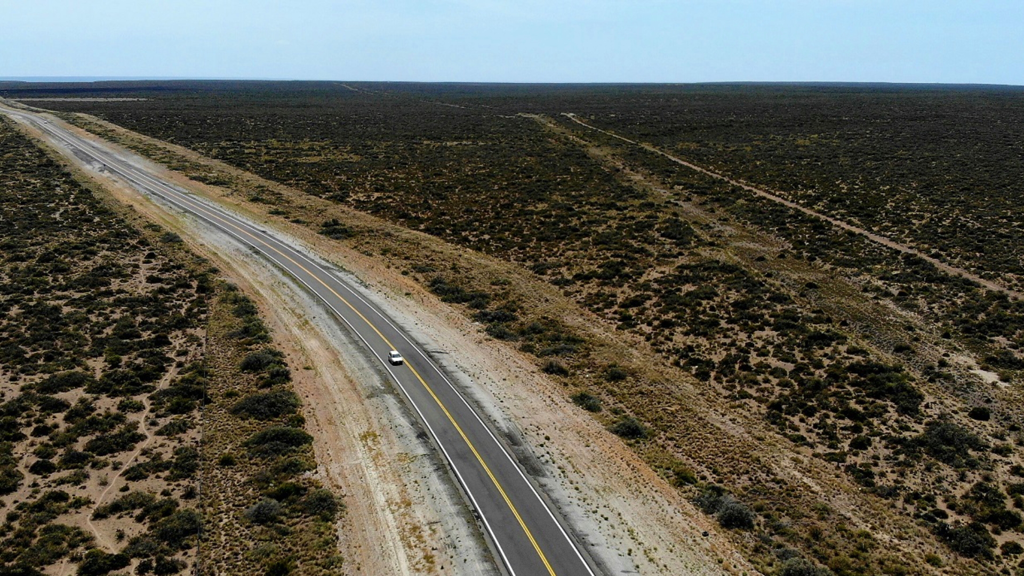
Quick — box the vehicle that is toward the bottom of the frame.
[389,350,403,365]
